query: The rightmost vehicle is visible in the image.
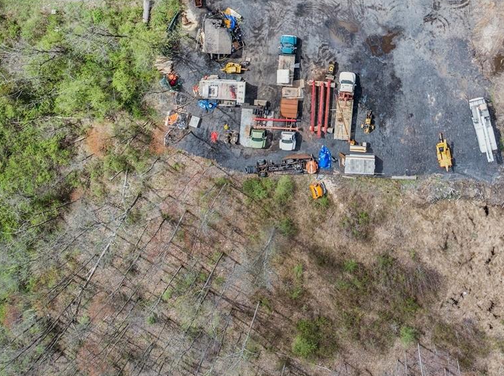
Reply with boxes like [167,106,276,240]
[469,94,497,164]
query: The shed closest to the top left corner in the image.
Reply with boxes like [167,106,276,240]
[201,24,233,64]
